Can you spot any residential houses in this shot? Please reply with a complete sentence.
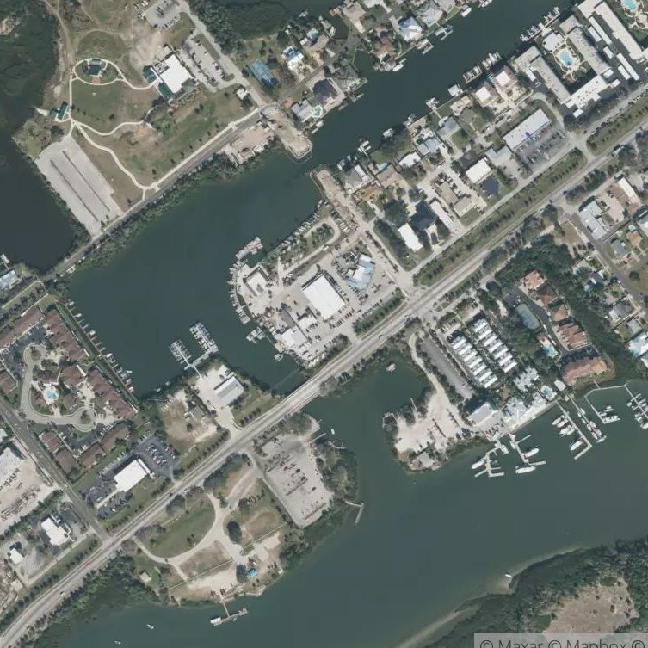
Yes, you can see a residential house in this photo.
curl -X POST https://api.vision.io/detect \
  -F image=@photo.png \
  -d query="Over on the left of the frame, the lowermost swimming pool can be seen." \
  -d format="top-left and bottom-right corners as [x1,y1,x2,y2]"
[39,385,63,405]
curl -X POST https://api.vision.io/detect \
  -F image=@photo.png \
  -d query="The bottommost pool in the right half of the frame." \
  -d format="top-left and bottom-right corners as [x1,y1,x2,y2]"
[541,385,557,401]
